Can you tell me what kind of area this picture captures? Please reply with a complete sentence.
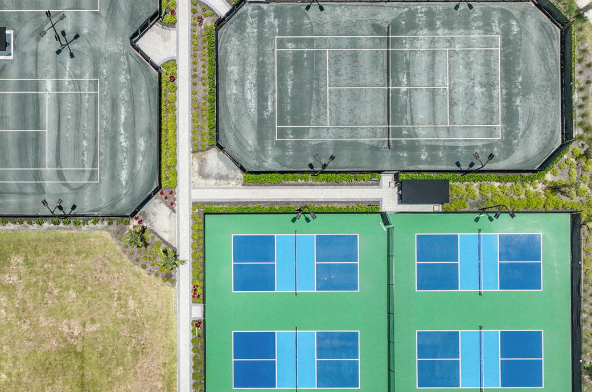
What you see here is a sports ground.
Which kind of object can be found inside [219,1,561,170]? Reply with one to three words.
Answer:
tennis court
